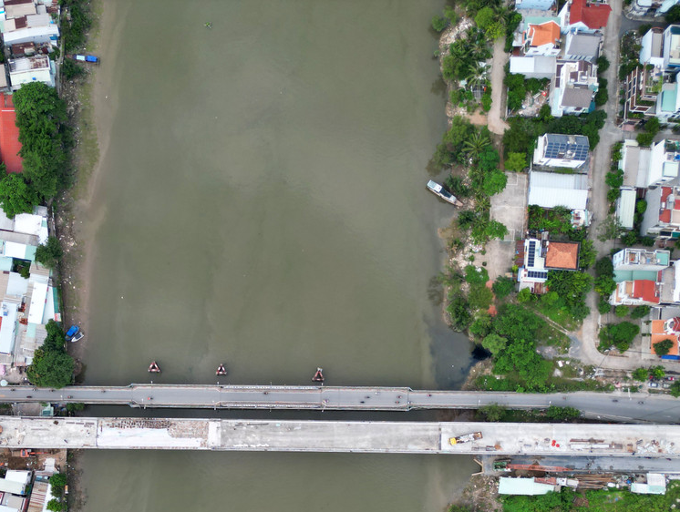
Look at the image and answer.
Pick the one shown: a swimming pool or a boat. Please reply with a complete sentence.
There is a boat in the scene.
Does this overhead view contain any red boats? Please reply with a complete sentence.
No, I can't see a single red boat in this photo.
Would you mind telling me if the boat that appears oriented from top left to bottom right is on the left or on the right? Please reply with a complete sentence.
You can find the boat that appears oriented from top left to bottom right on the right side of the picture.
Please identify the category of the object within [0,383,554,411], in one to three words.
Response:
bridge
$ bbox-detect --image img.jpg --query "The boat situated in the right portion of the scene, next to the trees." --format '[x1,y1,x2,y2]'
[427,177,463,204]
